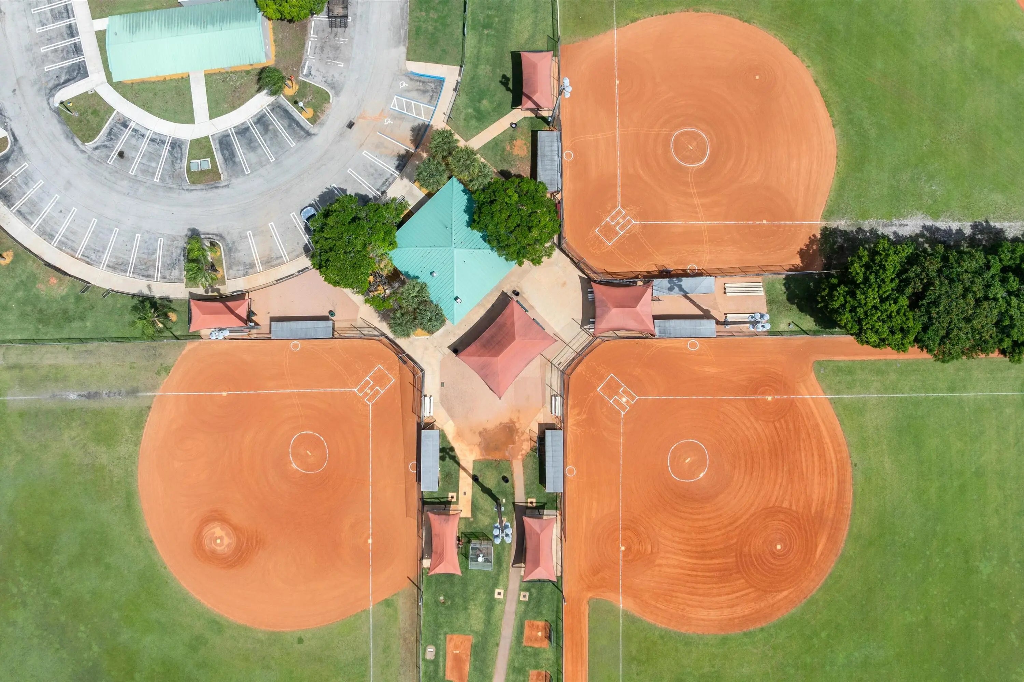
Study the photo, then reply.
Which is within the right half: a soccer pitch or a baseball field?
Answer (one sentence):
Looking within the right half, you will find a baseball field.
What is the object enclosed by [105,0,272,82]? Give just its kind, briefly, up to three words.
building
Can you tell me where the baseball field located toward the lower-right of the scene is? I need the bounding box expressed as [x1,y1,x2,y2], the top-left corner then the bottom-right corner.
[563,335,1024,682]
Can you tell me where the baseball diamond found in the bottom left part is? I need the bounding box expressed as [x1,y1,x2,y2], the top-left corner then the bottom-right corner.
[0,337,423,682]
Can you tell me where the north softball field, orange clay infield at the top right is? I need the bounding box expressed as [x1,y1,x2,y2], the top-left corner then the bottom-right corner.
[560,0,1024,281]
